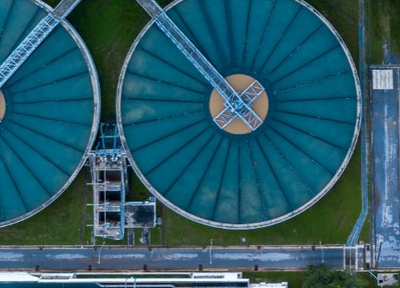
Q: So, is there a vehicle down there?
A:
No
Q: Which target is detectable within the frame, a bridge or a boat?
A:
bridge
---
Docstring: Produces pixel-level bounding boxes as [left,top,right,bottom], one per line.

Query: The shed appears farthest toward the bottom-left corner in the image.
[125,193,162,228]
